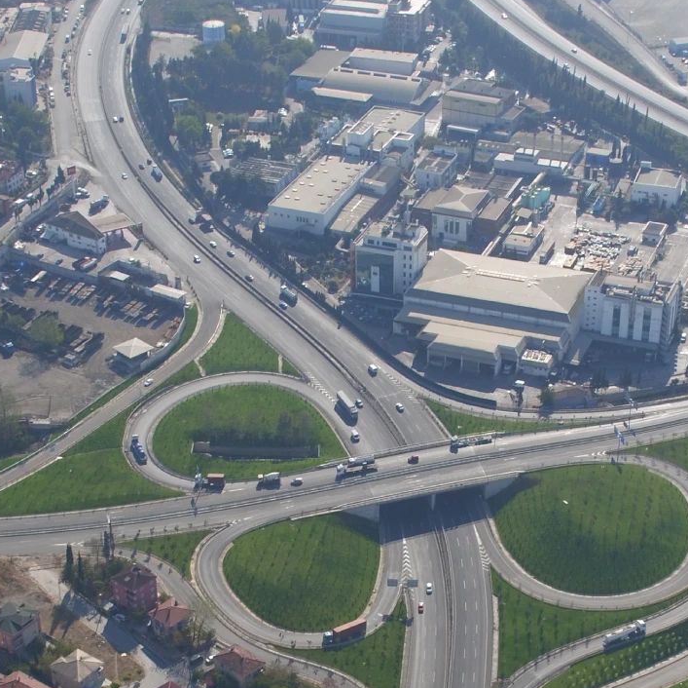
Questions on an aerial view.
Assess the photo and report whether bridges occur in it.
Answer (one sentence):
Yes, I can see a bridge in this picture.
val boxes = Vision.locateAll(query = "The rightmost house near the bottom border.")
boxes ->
[212,646,269,688]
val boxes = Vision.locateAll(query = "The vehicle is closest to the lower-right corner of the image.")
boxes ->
[602,622,648,643]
